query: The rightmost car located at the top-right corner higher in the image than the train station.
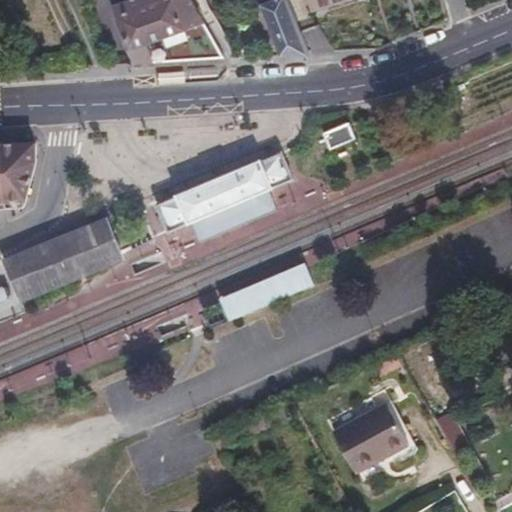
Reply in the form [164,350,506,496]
[422,30,446,46]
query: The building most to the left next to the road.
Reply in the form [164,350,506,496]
[0,142,40,214]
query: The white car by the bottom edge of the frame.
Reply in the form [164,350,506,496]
[457,480,474,502]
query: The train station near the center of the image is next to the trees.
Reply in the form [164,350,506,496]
[0,114,512,402]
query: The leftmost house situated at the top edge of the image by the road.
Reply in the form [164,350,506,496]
[114,0,224,66]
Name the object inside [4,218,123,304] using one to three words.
building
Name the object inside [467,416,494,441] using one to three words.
shed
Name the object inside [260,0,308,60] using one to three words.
house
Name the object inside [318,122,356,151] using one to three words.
shed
